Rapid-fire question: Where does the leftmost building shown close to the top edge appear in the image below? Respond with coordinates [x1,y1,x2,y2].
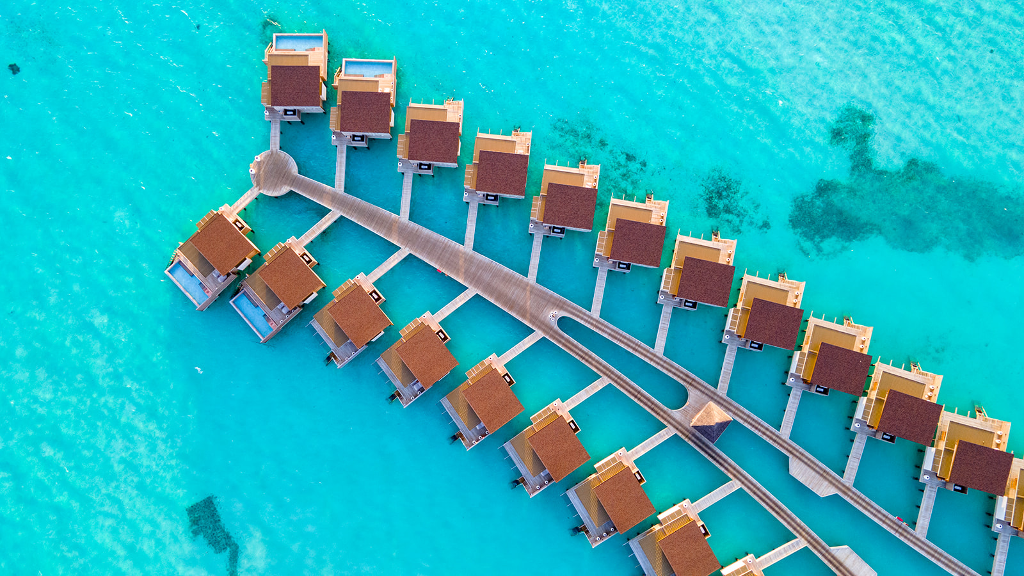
[261,27,333,125]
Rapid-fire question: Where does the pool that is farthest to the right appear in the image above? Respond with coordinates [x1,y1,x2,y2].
[343,57,397,76]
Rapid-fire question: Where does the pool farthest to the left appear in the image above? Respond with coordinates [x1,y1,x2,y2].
[166,259,220,308]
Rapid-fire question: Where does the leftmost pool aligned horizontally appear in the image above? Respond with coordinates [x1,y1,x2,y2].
[274,33,326,50]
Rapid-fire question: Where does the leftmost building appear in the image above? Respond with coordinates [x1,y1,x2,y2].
[174,203,266,313]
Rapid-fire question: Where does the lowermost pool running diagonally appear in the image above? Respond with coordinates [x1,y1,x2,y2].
[230,289,277,341]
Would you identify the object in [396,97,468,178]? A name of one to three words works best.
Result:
house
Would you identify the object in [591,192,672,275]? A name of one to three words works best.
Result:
house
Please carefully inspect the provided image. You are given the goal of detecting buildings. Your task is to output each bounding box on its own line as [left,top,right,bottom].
[238,235,331,345]
[781,311,876,397]
[307,271,396,371]
[844,356,945,446]
[329,53,401,150]
[591,192,672,275]
[463,128,536,209]
[720,550,768,576]
[623,495,721,576]
[396,97,468,178]
[499,396,591,500]
[561,444,656,550]
[174,203,266,313]
[436,351,525,454]
[527,159,604,240]
[372,309,461,411]
[261,27,333,125]
[691,401,733,444]
[655,229,741,312]
[911,404,1014,496]
[718,268,809,353]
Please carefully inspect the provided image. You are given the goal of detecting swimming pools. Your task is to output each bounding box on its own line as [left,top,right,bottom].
[274,33,326,50]
[166,259,220,308]
[343,57,397,76]
[230,289,277,341]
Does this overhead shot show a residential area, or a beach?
residential area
